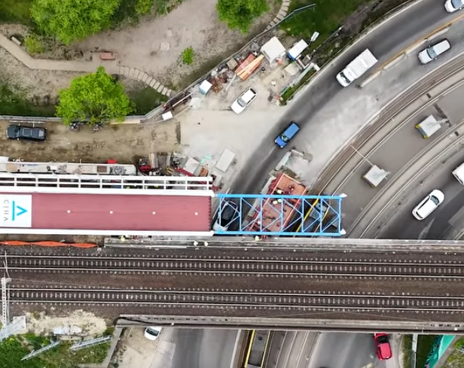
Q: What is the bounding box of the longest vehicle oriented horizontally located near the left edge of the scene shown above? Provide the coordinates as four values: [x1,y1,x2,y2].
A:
[6,125,47,142]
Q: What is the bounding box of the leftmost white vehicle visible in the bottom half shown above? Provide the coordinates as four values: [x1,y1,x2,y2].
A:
[142,328,159,341]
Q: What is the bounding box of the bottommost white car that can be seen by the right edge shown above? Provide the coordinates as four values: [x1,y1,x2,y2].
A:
[410,191,443,220]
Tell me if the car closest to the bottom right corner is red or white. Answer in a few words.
red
